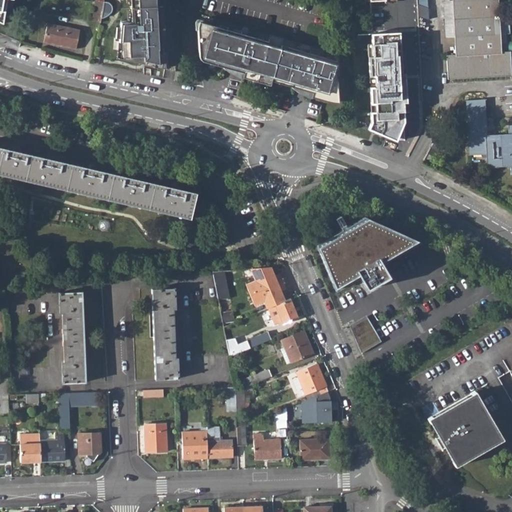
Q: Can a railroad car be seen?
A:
No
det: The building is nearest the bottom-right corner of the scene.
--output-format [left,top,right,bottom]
[428,392,505,468]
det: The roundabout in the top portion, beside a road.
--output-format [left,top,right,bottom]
[249,113,317,179]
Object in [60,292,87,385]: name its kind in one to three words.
building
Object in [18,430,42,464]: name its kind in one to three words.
house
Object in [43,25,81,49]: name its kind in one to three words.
house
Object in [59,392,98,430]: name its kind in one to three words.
building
